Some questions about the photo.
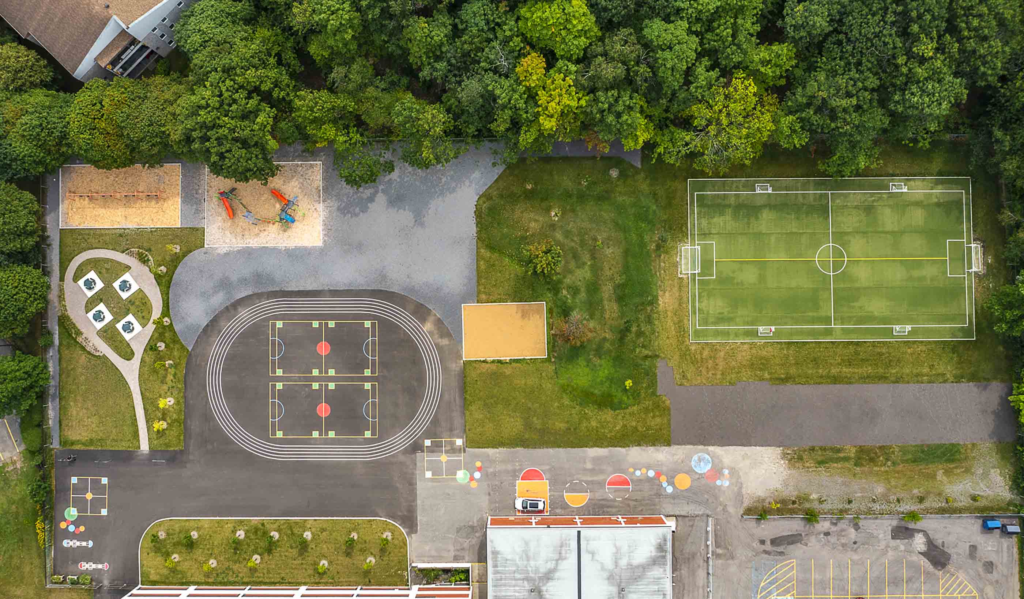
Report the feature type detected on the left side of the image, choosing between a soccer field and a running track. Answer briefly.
running track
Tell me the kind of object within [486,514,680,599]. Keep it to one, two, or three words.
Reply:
building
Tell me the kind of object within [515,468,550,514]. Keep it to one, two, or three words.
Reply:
basketball court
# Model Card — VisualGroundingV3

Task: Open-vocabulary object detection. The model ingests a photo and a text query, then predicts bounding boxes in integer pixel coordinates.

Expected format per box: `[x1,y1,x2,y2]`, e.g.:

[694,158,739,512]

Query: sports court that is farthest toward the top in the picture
[269,321,378,376]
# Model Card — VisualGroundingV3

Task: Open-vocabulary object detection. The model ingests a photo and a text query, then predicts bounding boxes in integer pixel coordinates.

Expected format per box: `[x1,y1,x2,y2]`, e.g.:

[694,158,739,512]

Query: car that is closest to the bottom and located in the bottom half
[515,496,546,512]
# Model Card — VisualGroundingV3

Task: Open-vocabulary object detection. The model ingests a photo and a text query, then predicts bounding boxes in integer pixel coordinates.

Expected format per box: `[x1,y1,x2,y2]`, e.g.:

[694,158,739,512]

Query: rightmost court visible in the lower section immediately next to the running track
[424,439,470,483]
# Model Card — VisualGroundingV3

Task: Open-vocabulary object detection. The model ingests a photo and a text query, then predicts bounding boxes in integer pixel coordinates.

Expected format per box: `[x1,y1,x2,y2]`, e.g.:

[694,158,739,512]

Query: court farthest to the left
[64,477,108,521]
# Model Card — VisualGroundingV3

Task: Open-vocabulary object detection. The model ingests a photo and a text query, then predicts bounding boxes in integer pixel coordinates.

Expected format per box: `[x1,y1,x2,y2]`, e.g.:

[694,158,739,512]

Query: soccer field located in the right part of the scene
[688,177,976,342]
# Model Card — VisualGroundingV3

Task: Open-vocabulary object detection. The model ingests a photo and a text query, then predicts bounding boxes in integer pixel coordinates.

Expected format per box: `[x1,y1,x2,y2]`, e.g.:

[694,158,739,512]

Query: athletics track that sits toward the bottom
[206,297,442,461]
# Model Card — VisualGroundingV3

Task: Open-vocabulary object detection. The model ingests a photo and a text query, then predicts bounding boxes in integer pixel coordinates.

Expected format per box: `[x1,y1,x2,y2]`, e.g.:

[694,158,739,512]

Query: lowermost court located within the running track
[269,383,378,438]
